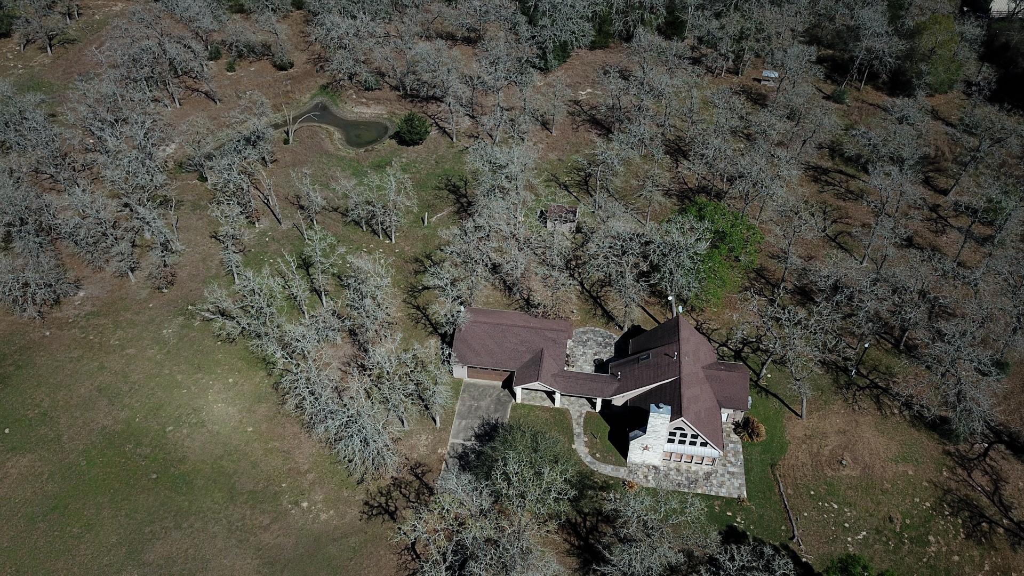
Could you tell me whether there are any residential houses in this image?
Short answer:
Yes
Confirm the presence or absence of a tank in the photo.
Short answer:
No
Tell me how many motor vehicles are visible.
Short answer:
none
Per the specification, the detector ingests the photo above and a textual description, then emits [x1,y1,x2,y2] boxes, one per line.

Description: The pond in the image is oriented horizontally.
[206,103,389,164]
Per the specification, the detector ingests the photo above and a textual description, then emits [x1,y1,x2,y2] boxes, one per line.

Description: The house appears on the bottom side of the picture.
[452,306,750,467]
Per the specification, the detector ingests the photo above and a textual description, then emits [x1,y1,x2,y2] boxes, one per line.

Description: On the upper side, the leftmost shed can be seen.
[546,197,580,229]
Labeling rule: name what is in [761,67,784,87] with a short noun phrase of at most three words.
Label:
building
